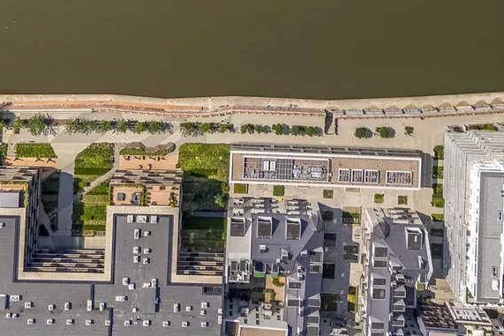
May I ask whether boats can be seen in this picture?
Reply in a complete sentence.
No, the photo shows no boat.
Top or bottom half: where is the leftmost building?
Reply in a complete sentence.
The leftmost building sits in the bottom half of the picture.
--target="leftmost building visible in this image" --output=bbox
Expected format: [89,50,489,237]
[0,161,225,336]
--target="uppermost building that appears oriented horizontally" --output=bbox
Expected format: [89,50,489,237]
[230,140,421,189]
